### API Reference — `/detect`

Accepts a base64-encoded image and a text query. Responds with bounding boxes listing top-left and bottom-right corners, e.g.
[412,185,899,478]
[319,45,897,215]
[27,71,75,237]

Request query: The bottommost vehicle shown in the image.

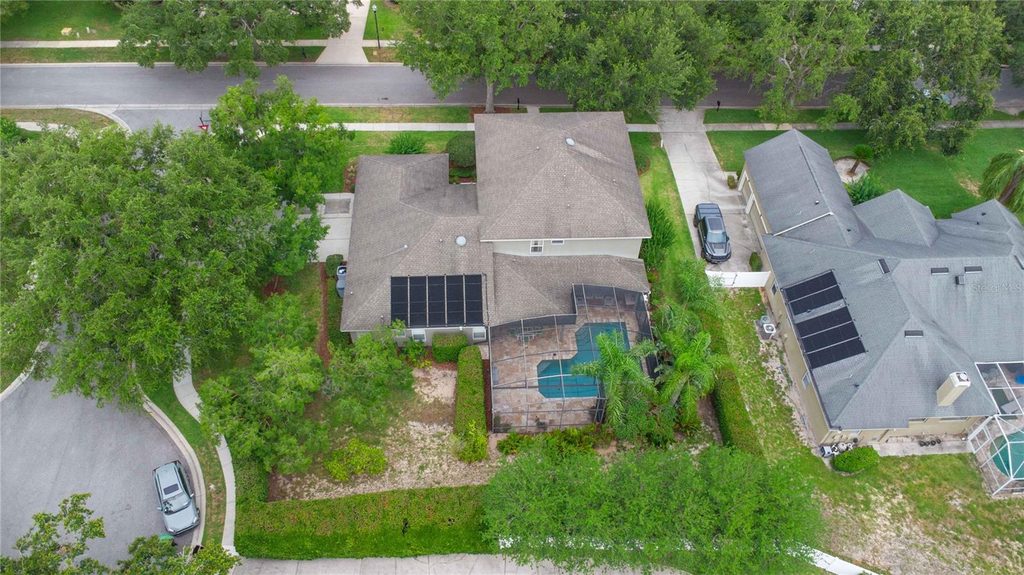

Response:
[154,464,199,538]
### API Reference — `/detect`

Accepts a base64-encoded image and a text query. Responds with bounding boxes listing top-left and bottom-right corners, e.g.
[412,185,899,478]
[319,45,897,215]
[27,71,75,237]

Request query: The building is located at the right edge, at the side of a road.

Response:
[741,132,1024,445]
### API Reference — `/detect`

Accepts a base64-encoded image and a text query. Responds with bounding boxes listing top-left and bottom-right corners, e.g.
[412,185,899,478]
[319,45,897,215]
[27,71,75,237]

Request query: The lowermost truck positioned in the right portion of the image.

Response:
[695,205,731,263]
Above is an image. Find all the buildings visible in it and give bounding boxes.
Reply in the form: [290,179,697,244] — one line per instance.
[741,132,1024,445]
[340,110,652,348]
